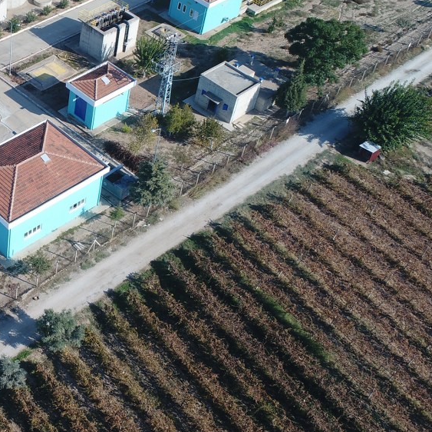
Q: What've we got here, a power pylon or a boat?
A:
power pylon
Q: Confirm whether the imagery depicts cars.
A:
No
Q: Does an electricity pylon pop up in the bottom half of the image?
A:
No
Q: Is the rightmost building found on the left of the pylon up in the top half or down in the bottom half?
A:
top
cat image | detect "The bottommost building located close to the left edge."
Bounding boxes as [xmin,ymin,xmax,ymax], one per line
[0,120,110,258]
